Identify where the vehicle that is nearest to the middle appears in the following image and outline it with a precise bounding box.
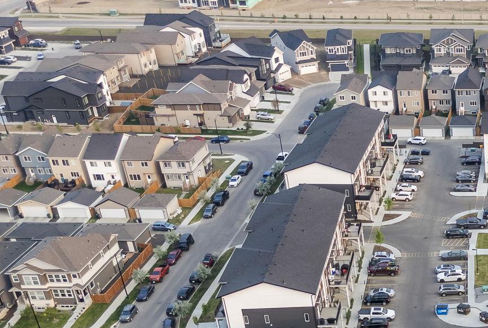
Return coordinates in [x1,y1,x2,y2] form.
[238,159,252,172]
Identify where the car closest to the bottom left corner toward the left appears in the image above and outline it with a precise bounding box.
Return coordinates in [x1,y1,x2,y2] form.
[117,301,138,320]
